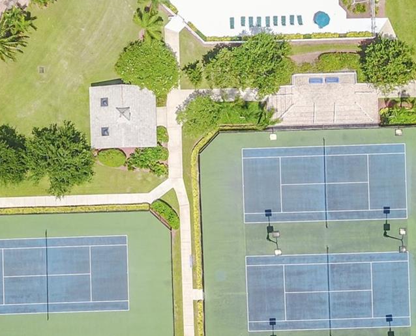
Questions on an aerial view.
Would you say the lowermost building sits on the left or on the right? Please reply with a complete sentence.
It is on the left.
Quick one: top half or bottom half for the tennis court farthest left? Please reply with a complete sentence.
Seen from above, the tennis court farthest left lies in the bottom half of the view.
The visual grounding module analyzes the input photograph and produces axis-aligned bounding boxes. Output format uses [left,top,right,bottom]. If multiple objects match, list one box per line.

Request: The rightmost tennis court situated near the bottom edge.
[246,247,411,336]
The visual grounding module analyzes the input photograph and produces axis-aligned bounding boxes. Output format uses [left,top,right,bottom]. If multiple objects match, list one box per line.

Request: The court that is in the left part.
[0,231,130,321]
